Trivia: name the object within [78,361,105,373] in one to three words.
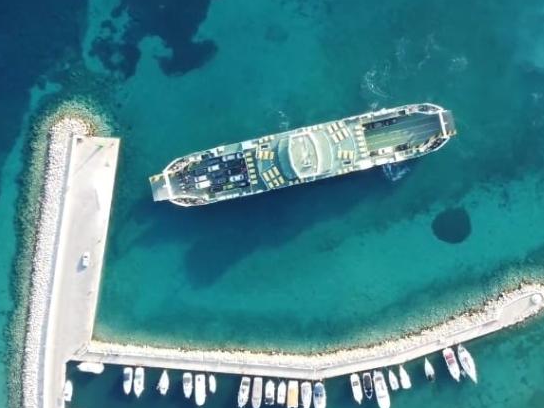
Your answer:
boat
